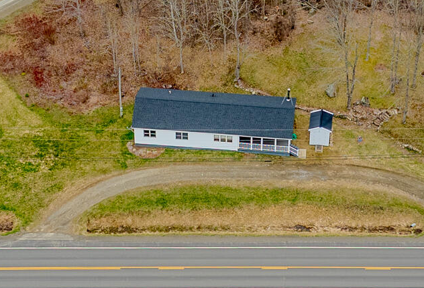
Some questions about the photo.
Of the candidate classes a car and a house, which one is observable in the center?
house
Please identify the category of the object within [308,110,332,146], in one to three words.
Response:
shed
